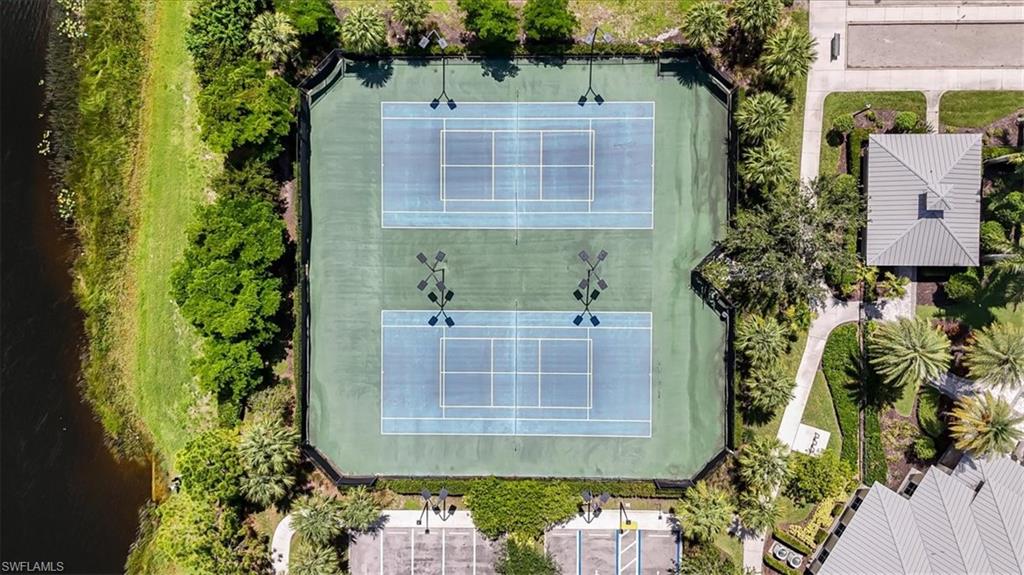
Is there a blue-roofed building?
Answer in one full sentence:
No, the scene contains no blue-roofed building.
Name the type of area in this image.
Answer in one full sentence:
This image shows a sports ground.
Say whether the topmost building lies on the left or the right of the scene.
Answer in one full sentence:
It is on the right.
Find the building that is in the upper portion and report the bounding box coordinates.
[859,133,981,267]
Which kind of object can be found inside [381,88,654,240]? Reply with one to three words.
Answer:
tennis court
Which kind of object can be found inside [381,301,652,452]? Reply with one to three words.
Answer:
tennis court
